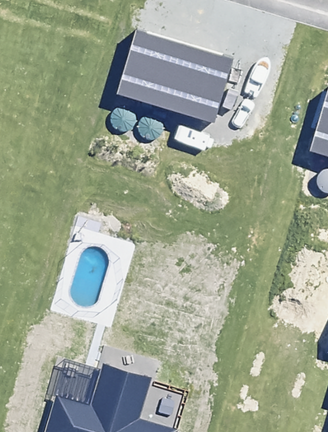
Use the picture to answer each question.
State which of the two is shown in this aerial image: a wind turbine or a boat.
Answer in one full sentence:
Visible in the photo is a boat.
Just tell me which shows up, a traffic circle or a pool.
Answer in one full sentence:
There is a pool in the scene.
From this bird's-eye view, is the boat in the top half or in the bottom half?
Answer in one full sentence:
The boat sits in the top half of the picture.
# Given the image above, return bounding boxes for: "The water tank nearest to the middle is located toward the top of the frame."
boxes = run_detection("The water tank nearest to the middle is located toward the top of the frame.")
[138,115,164,140]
